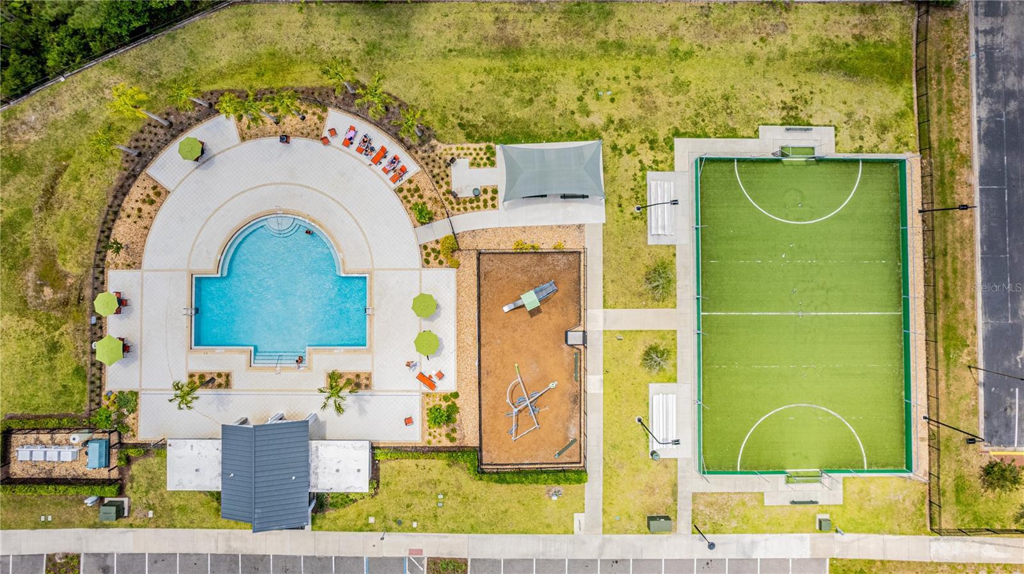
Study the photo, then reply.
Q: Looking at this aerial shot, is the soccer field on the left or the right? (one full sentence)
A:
You can find the soccer field on the right side of the picture.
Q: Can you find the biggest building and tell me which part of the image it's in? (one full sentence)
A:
Look in the bottom left portion of the view to spot the biggest building.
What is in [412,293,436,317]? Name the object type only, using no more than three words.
umbrella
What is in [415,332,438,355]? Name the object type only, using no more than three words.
umbrella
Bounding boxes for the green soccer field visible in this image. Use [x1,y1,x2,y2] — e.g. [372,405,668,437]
[694,144,930,489]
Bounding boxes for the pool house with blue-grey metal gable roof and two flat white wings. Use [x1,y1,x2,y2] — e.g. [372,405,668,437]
[166,411,374,533]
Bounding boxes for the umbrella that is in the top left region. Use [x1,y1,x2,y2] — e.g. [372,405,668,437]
[179,137,206,159]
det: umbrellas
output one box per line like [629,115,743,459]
[97,335,127,365]
[94,292,118,315]
[179,137,206,159]
[412,293,436,317]
[415,332,438,355]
